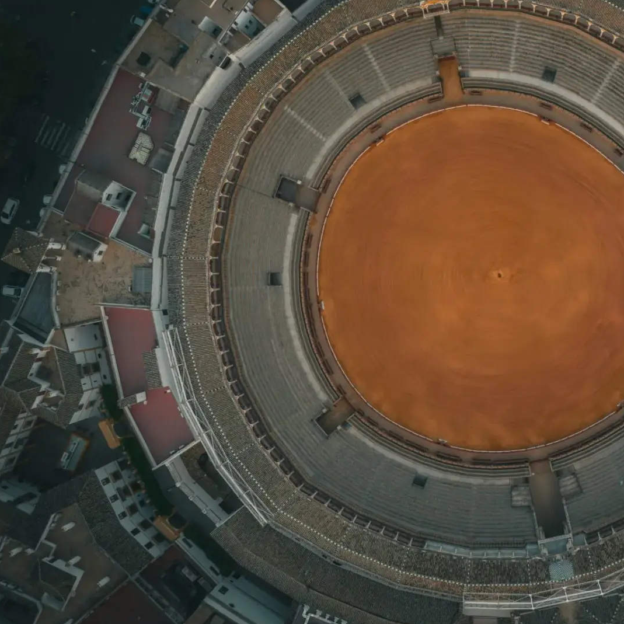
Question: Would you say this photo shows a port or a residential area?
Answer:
residential area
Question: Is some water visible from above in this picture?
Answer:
No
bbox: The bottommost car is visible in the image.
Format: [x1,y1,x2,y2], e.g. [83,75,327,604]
[0,285,25,298]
